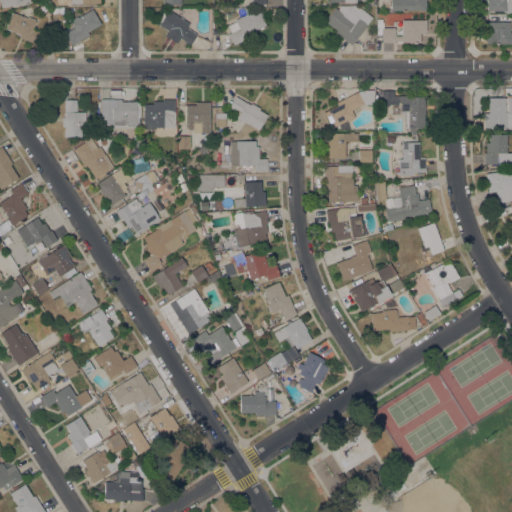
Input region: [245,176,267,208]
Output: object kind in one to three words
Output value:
house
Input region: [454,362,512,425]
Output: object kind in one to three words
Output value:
tennis court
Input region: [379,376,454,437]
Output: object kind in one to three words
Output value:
tennis court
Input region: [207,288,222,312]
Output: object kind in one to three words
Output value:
swimming pool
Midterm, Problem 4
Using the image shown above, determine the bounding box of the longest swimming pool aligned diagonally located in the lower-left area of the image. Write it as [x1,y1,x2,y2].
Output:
[94,375,114,390]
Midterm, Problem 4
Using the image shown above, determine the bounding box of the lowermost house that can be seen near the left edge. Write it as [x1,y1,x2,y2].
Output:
[9,481,47,512]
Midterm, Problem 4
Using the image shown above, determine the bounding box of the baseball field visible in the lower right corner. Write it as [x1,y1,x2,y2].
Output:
[393,458,470,512]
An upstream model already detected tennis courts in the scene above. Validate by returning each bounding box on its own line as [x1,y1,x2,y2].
[440,337,512,398]
[379,376,454,437]
[394,398,472,462]
[454,362,512,425]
